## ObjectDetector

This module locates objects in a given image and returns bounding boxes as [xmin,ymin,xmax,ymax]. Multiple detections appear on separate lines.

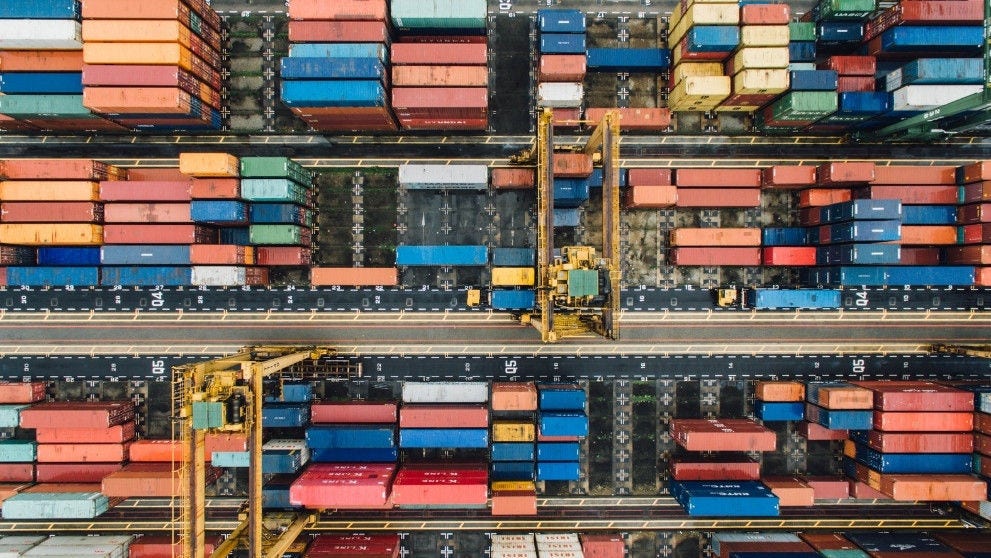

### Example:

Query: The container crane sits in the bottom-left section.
[176,346,340,558]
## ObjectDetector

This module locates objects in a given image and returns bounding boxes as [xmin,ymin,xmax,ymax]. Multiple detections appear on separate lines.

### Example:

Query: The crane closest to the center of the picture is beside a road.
[504,108,620,342]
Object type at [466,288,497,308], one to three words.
vehicle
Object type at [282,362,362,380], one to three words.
trailer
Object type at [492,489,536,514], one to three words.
shipping container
